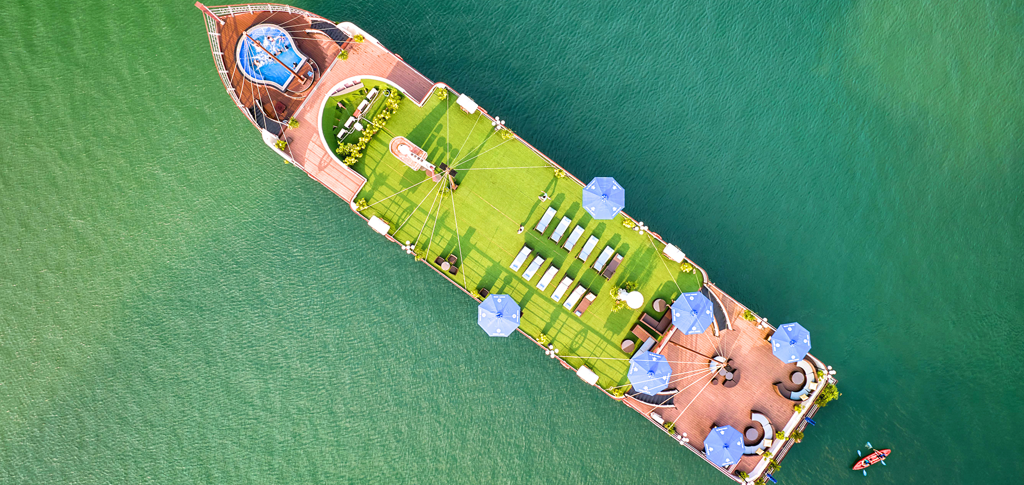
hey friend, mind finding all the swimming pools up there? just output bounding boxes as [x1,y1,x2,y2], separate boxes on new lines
[235,22,320,99]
